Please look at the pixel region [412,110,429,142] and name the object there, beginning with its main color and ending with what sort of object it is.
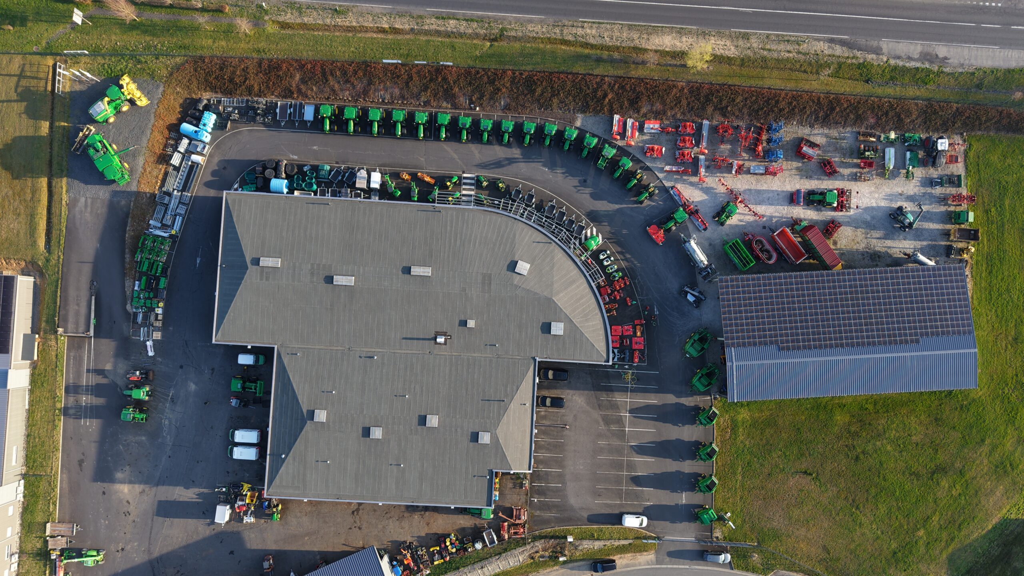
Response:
green work vehicle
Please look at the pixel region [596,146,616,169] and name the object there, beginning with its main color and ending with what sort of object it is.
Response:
green vehicle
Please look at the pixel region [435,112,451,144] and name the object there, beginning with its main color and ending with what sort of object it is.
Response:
green work vehicle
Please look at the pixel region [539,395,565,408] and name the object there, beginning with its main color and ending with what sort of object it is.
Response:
black vehicle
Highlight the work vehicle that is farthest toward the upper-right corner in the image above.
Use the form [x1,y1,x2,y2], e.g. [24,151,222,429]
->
[922,136,950,172]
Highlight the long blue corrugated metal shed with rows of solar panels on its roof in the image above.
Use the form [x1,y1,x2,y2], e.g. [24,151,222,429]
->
[711,263,978,402]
